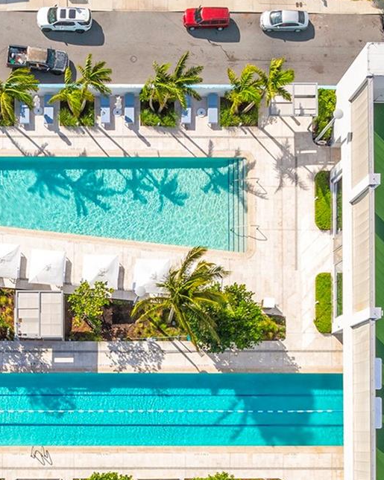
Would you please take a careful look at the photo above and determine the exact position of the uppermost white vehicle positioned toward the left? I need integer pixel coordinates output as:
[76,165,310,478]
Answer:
[37,5,92,34]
